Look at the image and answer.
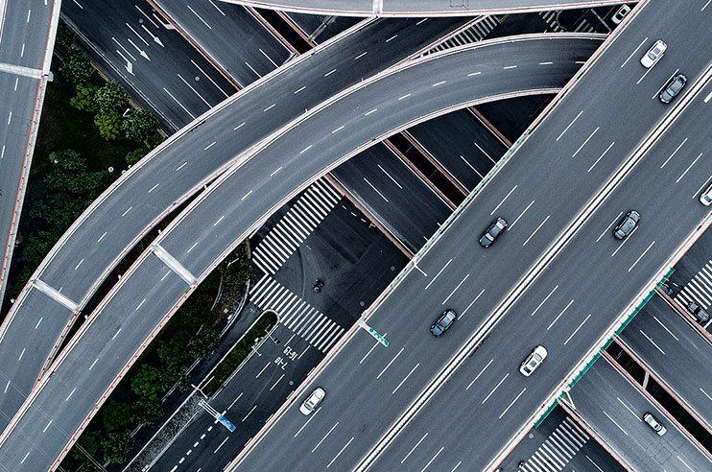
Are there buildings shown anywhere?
No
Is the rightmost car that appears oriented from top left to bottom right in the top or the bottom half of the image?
bottom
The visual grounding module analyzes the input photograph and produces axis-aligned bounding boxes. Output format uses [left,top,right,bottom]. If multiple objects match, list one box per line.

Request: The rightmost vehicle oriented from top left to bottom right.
[686,302,710,323]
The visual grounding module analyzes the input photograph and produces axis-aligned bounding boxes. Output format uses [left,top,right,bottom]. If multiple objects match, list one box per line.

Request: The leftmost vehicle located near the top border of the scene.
[609,5,630,25]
